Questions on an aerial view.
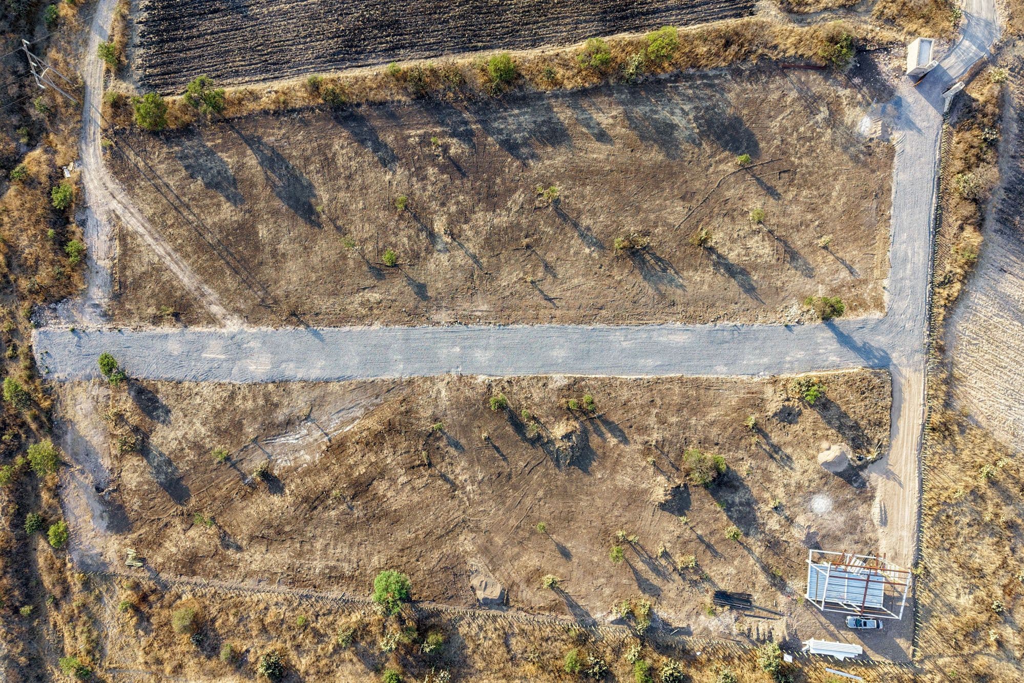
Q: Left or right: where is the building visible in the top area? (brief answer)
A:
right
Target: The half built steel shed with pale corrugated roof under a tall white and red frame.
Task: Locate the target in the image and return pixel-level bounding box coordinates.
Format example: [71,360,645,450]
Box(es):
[801,549,911,620]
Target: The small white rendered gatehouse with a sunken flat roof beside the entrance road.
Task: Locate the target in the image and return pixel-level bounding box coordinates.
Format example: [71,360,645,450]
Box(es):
[907,37,936,75]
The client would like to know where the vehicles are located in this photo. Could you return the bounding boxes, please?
[845,614,884,632]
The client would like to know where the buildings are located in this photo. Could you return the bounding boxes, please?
[801,549,911,620]
[907,37,936,75]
